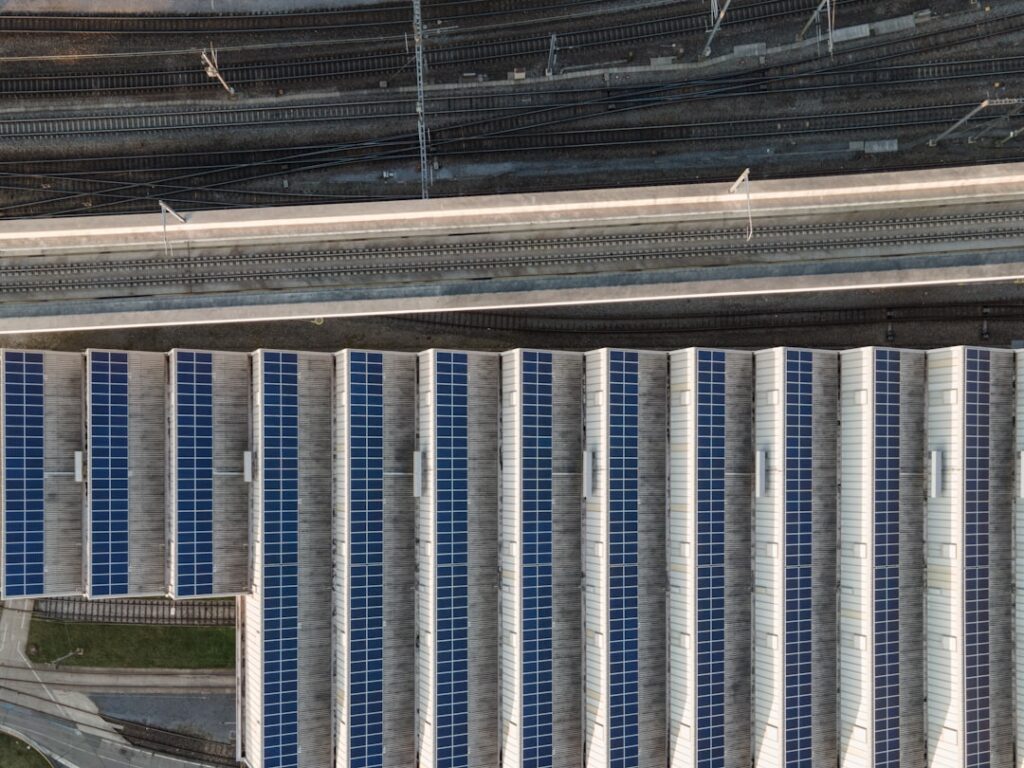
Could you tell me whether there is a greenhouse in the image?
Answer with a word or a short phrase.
No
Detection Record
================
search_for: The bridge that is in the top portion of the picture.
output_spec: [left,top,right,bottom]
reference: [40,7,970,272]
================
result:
[0,163,1024,334]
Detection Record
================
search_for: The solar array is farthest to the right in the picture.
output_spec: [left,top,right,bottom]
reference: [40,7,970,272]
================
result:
[965,349,990,768]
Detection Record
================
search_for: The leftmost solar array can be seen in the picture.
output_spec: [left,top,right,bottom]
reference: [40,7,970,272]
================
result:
[5,352,77,598]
